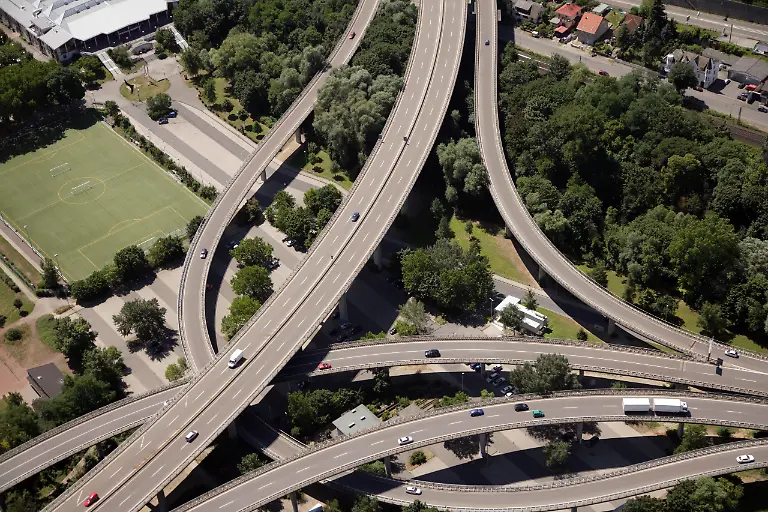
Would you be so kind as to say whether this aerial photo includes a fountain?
No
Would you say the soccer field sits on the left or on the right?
left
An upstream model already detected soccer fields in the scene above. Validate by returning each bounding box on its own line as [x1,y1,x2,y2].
[0,107,211,291]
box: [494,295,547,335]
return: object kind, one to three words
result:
building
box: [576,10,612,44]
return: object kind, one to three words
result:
house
